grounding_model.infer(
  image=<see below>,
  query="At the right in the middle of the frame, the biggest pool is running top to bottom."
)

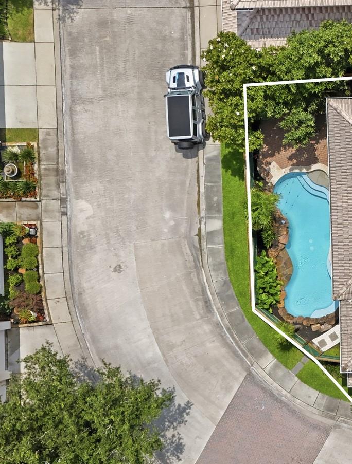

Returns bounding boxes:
[269,160,340,318]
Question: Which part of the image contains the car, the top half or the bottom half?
top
